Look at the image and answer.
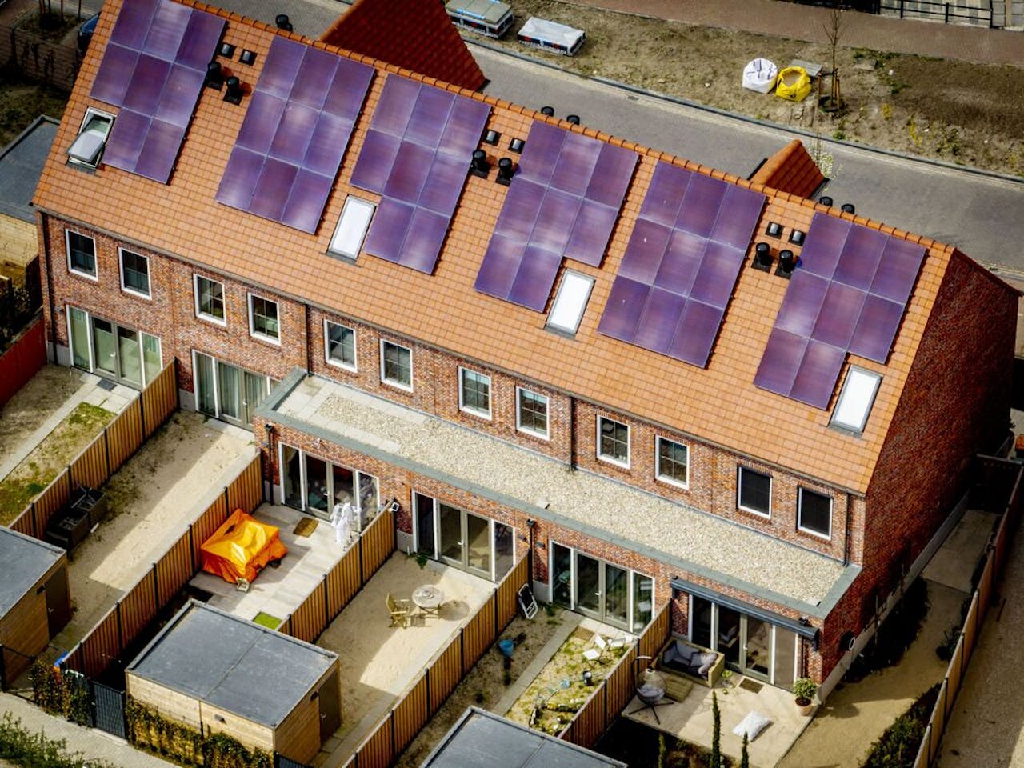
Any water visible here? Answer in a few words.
No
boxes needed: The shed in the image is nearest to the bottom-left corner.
[0,524,71,678]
